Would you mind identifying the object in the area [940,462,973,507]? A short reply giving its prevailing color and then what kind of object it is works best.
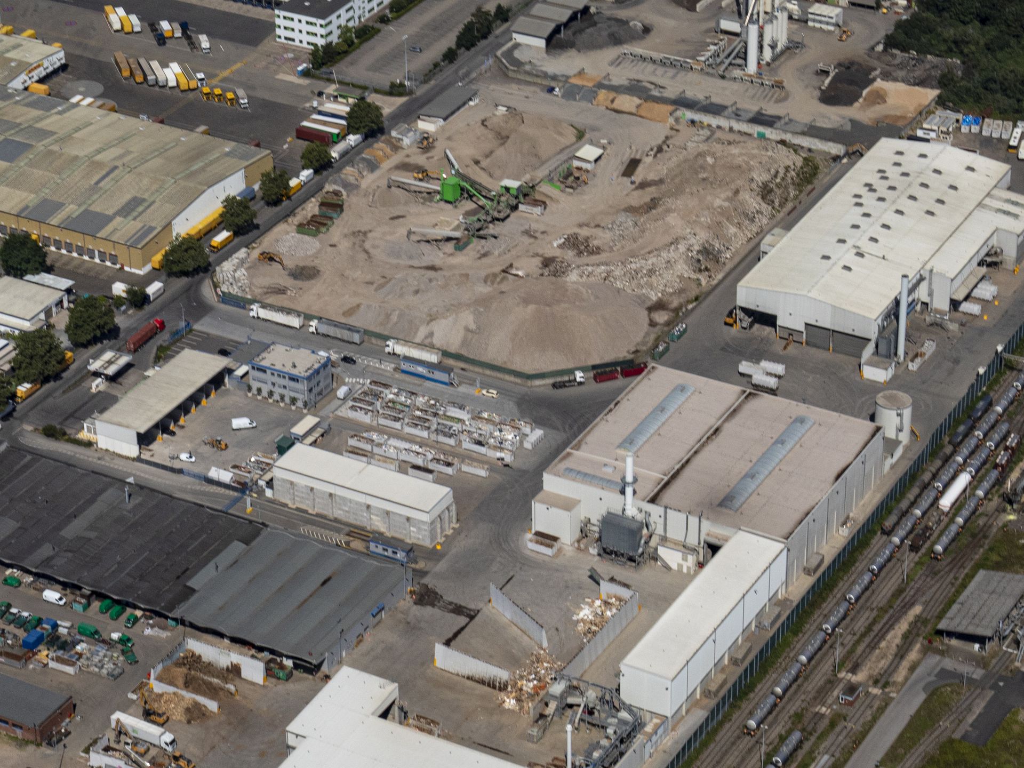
white rail car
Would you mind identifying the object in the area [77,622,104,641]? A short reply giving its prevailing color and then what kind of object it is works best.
green vehicle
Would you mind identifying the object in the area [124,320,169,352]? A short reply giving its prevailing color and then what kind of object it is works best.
red truck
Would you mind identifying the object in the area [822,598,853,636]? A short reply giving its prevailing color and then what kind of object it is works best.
gray rail car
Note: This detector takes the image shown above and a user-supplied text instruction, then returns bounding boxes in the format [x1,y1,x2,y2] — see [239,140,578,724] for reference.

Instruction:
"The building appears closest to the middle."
[401,354,459,383]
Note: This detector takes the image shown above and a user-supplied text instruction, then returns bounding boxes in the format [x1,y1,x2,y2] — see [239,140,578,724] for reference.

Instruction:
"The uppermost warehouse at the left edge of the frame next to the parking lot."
[0,87,270,274]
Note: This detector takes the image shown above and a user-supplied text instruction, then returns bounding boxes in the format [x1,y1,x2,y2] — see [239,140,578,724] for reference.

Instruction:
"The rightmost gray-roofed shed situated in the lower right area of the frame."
[937,568,1020,656]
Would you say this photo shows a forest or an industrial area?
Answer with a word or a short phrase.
industrial area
